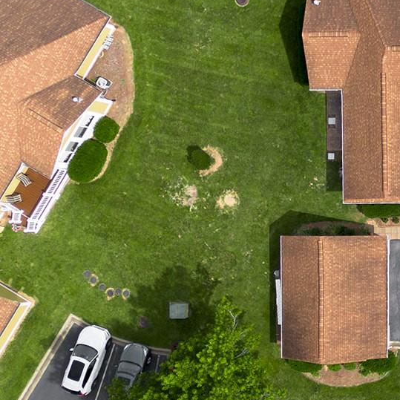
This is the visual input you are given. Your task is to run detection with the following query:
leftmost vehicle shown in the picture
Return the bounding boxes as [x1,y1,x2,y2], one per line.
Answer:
[63,322,114,399]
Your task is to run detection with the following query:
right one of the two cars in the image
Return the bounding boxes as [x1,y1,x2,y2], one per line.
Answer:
[106,336,155,400]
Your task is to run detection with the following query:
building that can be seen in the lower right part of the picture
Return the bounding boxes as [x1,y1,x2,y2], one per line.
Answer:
[279,235,391,364]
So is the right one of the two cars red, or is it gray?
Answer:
gray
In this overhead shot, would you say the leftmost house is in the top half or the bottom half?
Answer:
bottom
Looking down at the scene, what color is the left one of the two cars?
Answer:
white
